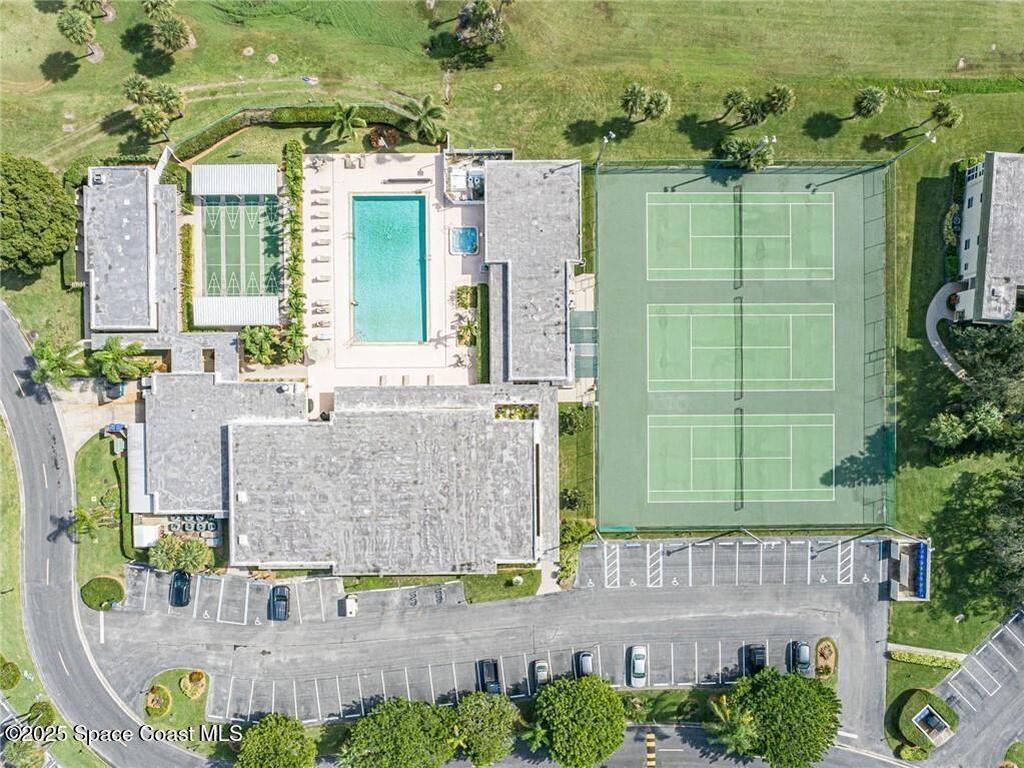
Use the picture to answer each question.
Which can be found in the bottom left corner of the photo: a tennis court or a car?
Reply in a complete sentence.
You can see a car in the bottom left corner of the photo.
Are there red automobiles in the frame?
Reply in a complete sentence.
No, the picture doesn't show any red automobile.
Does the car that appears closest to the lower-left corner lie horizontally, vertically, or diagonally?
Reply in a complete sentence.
In this picture, the car that appears closest to the lower-left corner is oriented vertically.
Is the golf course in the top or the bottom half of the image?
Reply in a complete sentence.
The golf course sits in the top half of the picture.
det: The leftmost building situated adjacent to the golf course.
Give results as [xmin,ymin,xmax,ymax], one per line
[80,167,169,333]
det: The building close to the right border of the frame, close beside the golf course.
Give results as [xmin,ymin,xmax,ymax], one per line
[949,151,1024,326]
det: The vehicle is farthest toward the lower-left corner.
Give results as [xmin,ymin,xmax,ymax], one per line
[171,568,191,607]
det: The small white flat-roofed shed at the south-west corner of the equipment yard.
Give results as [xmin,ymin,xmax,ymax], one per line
[134,524,166,547]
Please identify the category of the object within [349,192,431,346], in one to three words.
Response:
swimming pool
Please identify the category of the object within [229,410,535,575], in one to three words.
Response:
building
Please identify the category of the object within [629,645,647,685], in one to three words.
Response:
car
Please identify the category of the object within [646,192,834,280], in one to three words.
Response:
tennis court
